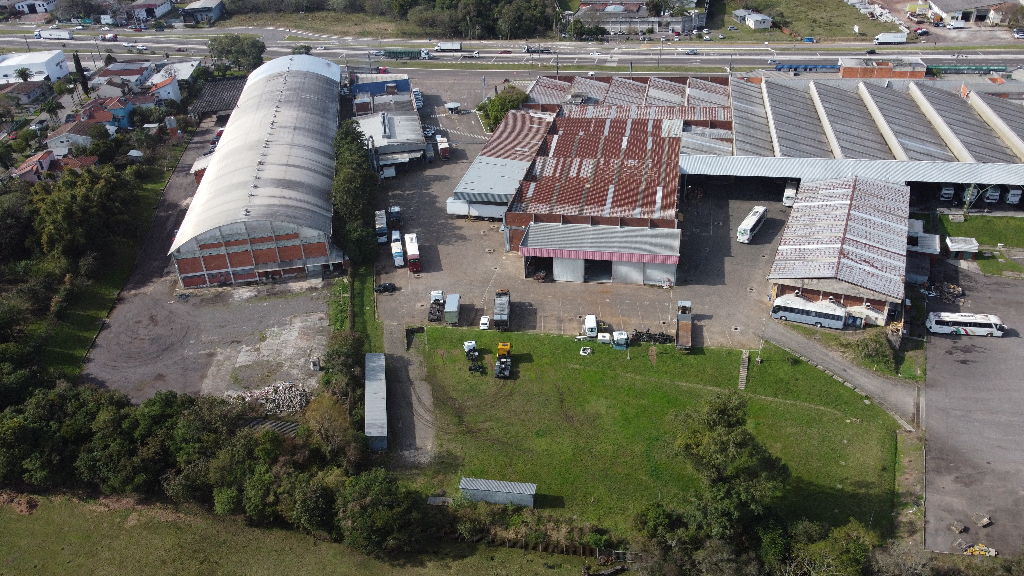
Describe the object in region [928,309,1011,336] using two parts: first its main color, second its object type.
white bus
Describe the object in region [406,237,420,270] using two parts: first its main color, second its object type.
white vehicle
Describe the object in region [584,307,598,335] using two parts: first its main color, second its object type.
white vehicle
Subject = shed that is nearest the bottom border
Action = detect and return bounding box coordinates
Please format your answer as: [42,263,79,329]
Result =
[457,474,539,508]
